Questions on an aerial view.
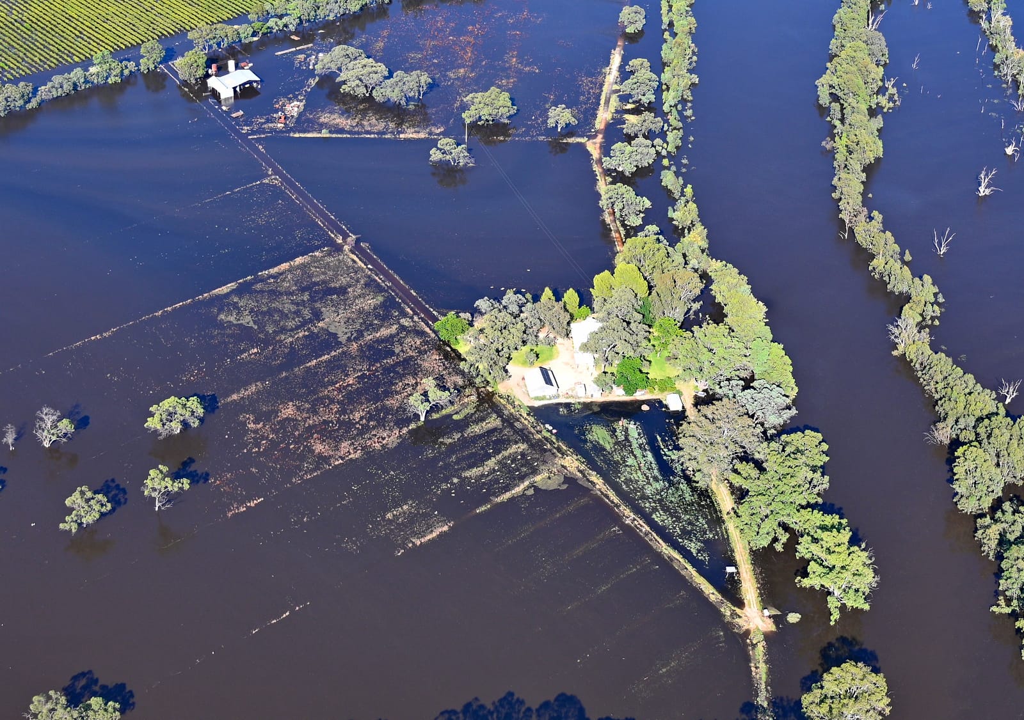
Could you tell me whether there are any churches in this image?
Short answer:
No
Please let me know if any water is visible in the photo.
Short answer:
Yes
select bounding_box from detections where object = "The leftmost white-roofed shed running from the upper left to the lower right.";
[205,76,235,98]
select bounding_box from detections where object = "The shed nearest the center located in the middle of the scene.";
[523,367,559,400]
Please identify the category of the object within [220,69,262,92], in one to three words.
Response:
shed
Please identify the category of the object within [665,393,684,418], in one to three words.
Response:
shed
